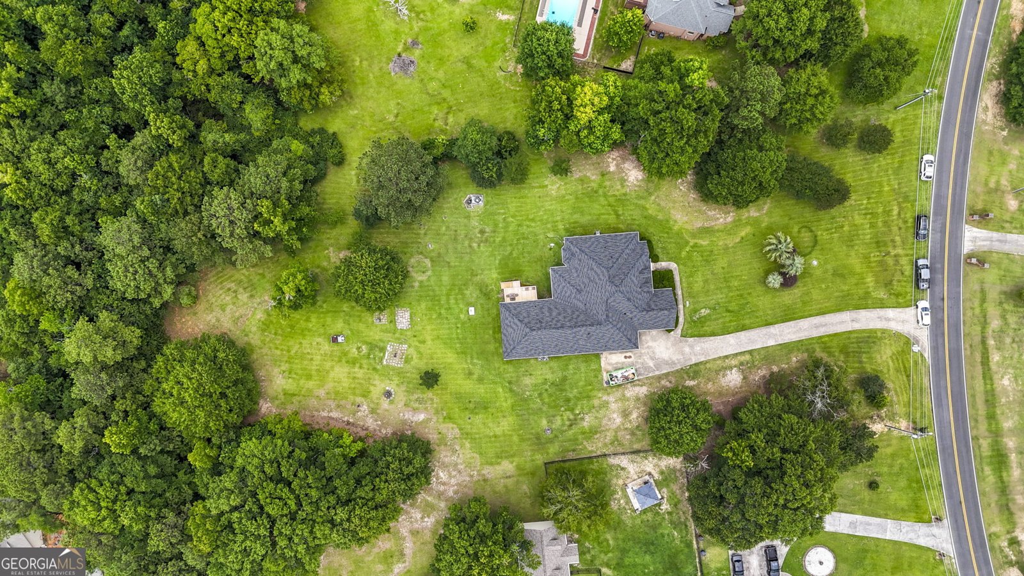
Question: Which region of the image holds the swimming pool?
top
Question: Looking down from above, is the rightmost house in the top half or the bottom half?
top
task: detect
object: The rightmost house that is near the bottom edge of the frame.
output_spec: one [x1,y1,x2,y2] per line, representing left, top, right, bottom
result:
[518,522,580,576]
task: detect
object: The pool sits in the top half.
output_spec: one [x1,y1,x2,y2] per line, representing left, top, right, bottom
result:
[537,0,602,59]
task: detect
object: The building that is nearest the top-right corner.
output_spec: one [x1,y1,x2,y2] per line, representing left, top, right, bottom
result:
[642,0,739,43]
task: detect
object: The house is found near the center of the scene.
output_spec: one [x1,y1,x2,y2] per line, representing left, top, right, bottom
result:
[500,231,676,360]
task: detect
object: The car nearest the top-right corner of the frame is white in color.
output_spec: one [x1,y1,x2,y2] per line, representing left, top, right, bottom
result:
[918,154,934,181]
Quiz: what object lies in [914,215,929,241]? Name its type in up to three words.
car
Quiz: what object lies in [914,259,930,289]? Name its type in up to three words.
car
